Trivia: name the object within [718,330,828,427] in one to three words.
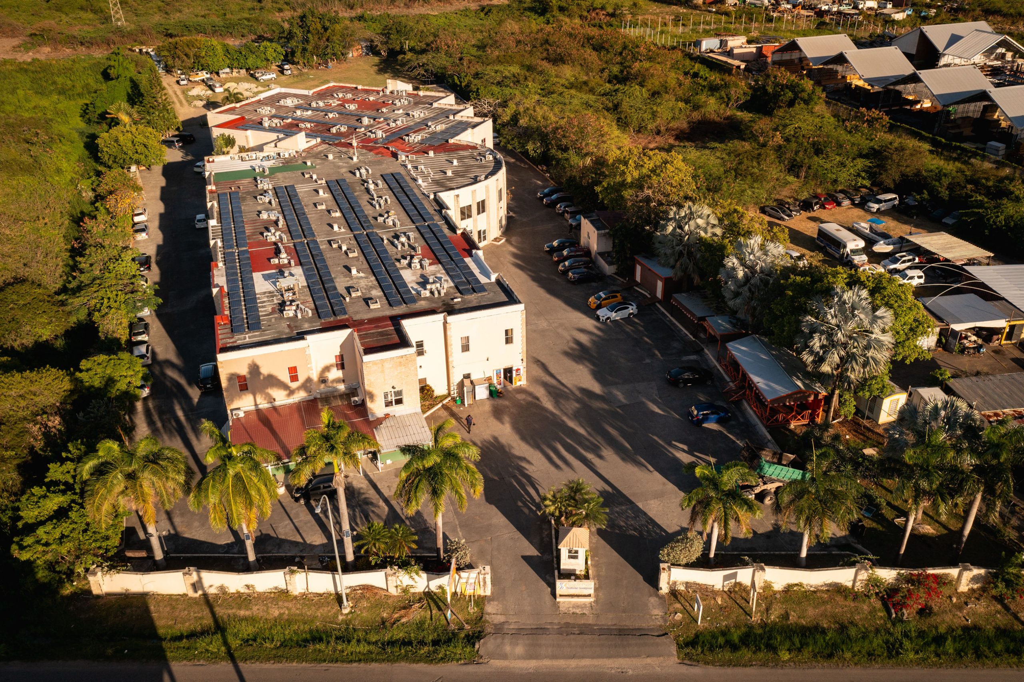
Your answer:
building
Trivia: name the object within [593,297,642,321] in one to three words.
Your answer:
car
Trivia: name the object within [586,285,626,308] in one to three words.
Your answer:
car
